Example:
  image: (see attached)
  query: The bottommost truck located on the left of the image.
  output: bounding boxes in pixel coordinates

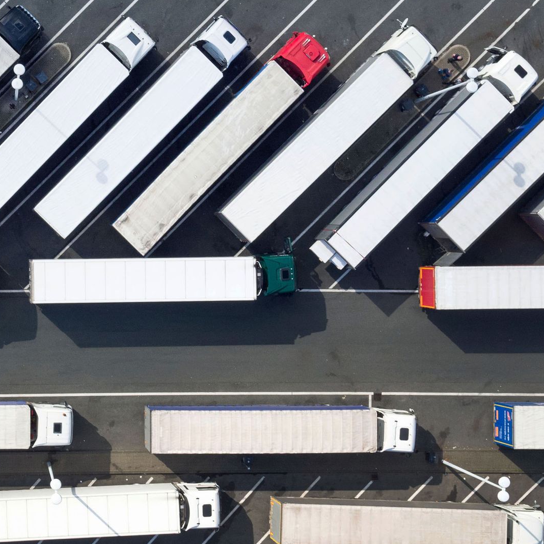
[0,479,221,542]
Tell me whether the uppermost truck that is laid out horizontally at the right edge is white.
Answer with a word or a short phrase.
Yes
